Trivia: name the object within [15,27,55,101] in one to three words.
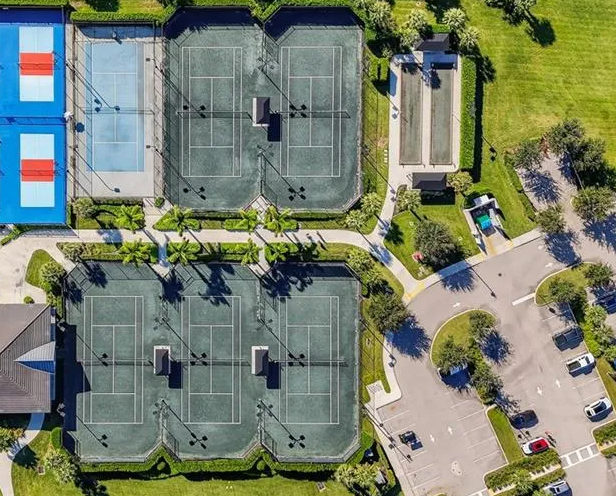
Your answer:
sports court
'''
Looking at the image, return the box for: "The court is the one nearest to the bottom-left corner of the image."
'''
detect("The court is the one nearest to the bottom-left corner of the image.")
[78,296,148,424]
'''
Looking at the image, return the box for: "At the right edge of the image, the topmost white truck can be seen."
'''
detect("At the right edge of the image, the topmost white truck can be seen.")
[563,351,597,374]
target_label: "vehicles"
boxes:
[563,351,597,374]
[582,398,611,418]
[521,436,550,455]
[400,431,417,444]
[541,480,567,496]
[508,408,538,428]
[592,289,616,305]
[550,325,584,348]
